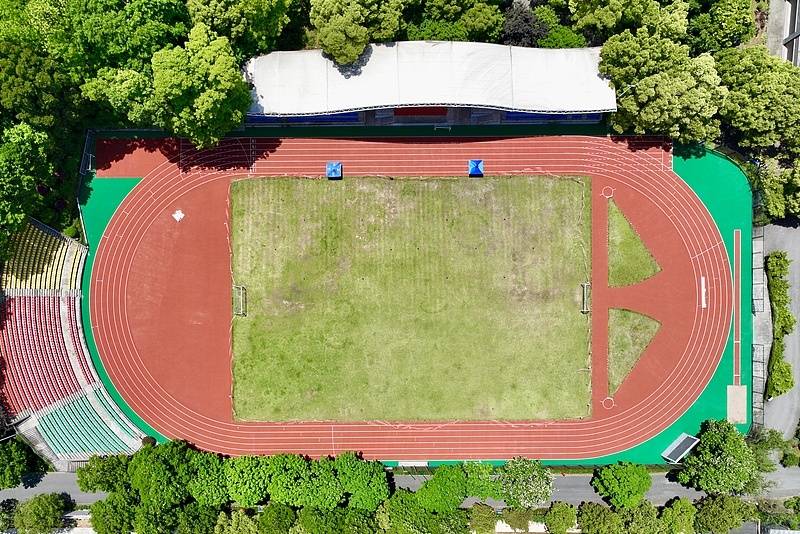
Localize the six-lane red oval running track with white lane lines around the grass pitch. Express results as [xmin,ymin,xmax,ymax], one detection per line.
[80,123,752,466]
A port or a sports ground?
sports ground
